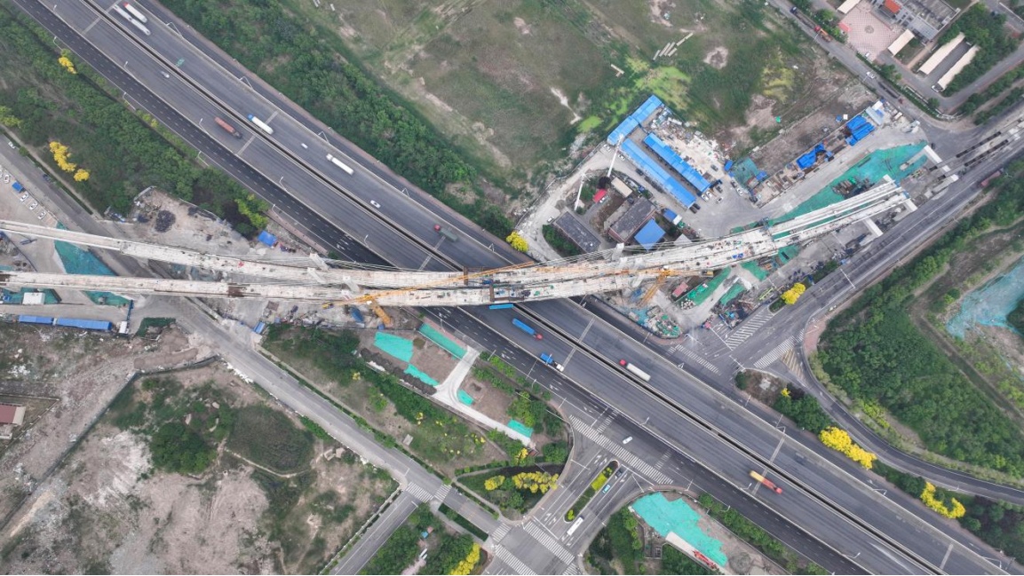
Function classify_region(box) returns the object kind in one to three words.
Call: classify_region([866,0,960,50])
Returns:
building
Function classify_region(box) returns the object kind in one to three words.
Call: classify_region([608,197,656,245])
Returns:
building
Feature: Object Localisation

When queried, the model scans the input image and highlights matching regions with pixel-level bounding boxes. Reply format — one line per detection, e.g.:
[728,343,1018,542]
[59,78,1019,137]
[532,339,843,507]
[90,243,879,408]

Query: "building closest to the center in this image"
[553,211,601,257]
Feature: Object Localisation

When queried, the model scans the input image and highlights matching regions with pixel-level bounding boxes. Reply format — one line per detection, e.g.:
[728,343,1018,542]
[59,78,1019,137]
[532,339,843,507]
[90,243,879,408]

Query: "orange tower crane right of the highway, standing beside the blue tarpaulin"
[536,264,714,313]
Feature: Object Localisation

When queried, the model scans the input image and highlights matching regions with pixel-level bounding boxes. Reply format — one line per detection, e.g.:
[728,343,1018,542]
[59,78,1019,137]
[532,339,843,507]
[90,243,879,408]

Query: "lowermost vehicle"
[566,515,585,535]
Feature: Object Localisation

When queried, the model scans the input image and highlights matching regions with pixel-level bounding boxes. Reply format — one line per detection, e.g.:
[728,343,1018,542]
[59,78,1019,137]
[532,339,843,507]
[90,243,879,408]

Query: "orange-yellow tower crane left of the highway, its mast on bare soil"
[324,258,533,331]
